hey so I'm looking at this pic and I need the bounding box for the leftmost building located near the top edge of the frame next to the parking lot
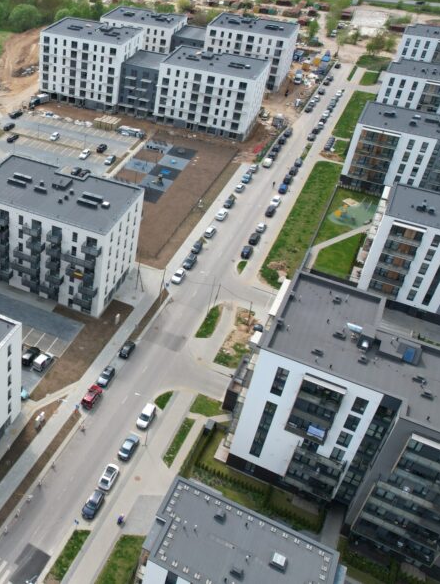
[39,16,143,109]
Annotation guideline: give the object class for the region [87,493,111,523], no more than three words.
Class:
car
